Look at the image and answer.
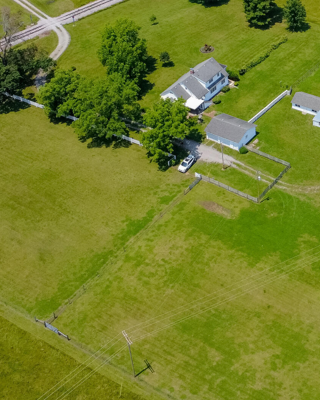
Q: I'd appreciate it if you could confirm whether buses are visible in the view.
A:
No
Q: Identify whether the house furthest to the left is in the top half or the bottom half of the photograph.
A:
top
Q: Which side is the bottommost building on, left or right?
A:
right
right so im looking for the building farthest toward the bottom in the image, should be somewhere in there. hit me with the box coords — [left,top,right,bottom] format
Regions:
[203,114,259,152]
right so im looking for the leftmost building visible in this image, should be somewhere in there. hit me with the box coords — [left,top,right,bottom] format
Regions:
[157,57,229,118]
